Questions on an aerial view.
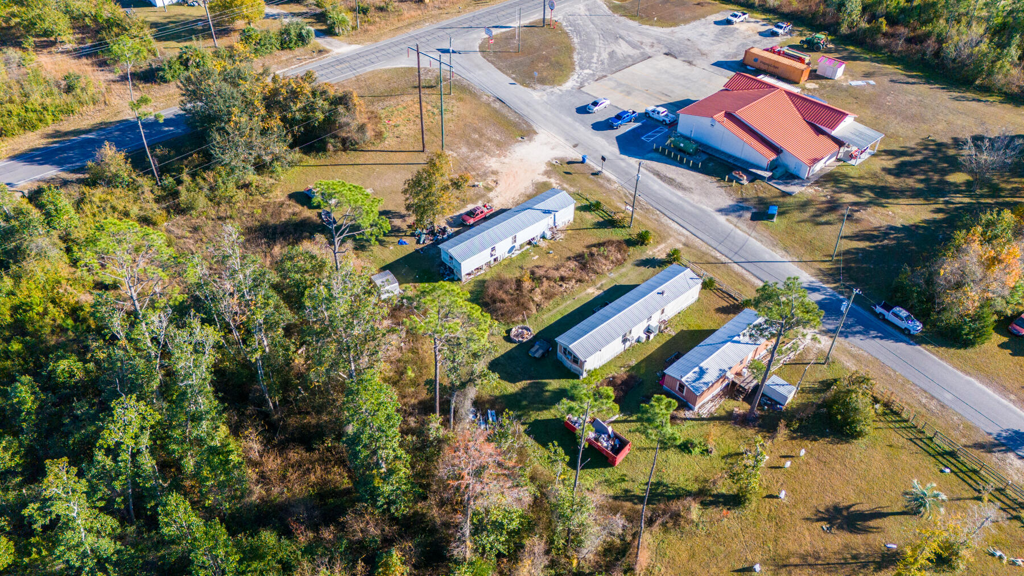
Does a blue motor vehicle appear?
Yes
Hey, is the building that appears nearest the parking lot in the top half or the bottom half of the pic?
top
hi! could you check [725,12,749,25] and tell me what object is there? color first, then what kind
white vehicle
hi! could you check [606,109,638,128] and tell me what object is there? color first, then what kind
blue vehicle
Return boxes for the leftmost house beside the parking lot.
[436,190,578,280]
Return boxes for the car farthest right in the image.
[1002,311,1024,335]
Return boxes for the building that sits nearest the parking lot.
[675,71,868,179]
